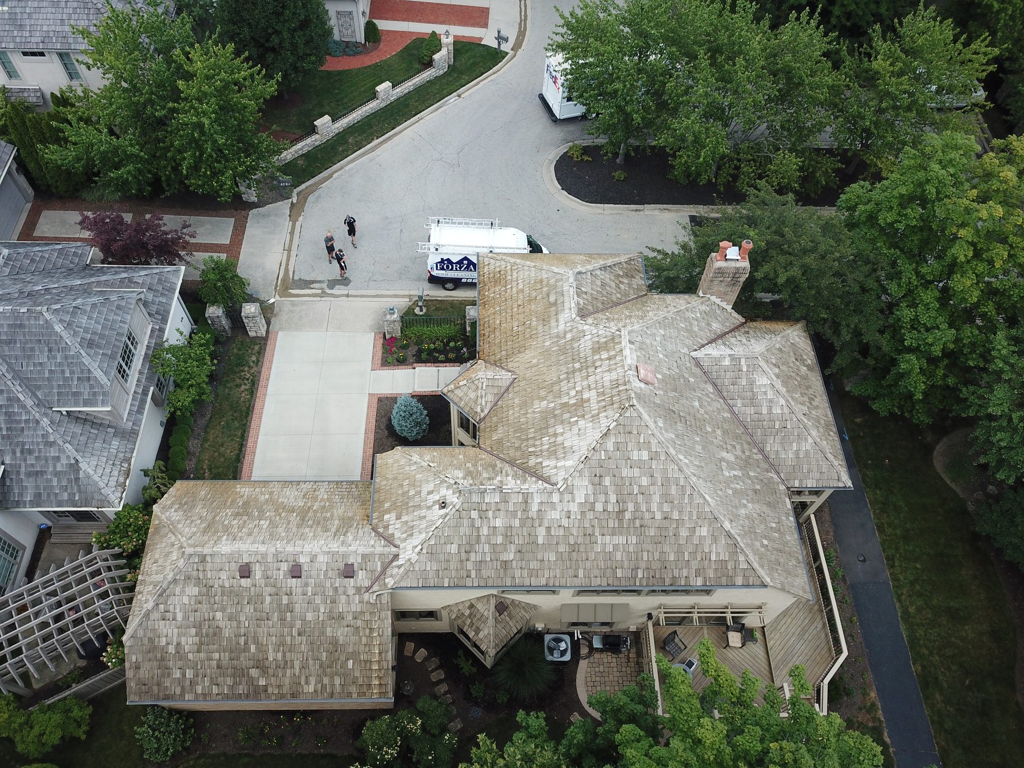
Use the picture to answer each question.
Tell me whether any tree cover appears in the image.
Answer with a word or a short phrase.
Yes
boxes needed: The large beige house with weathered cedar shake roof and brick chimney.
[122,237,857,711]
